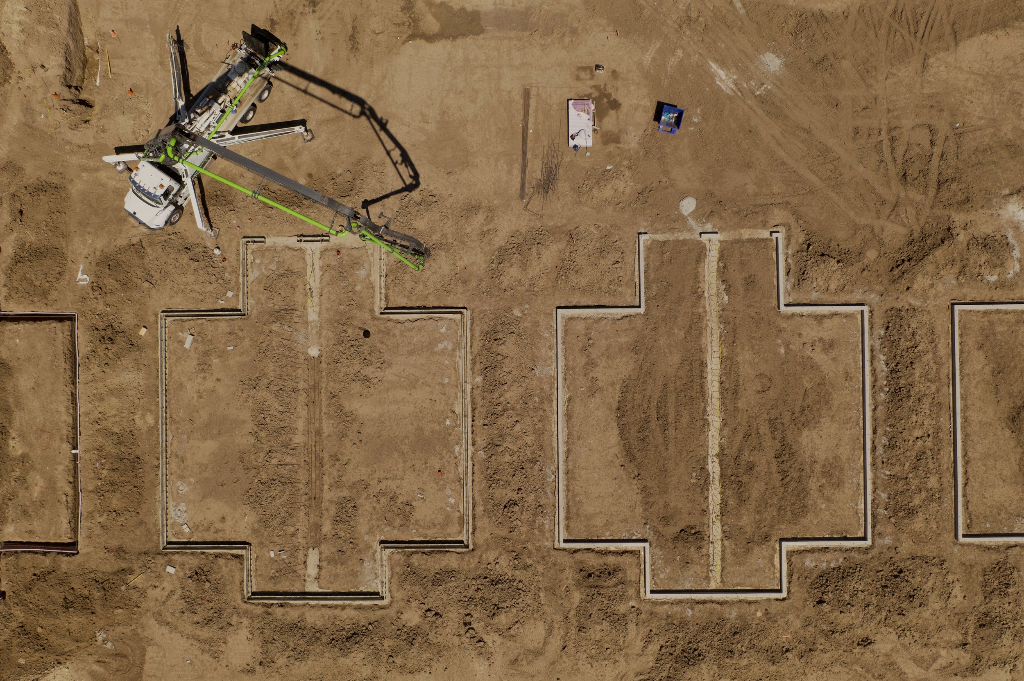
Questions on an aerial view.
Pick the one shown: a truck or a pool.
truck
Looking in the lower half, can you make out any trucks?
No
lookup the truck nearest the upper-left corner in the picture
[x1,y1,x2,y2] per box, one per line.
[100,23,435,270]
